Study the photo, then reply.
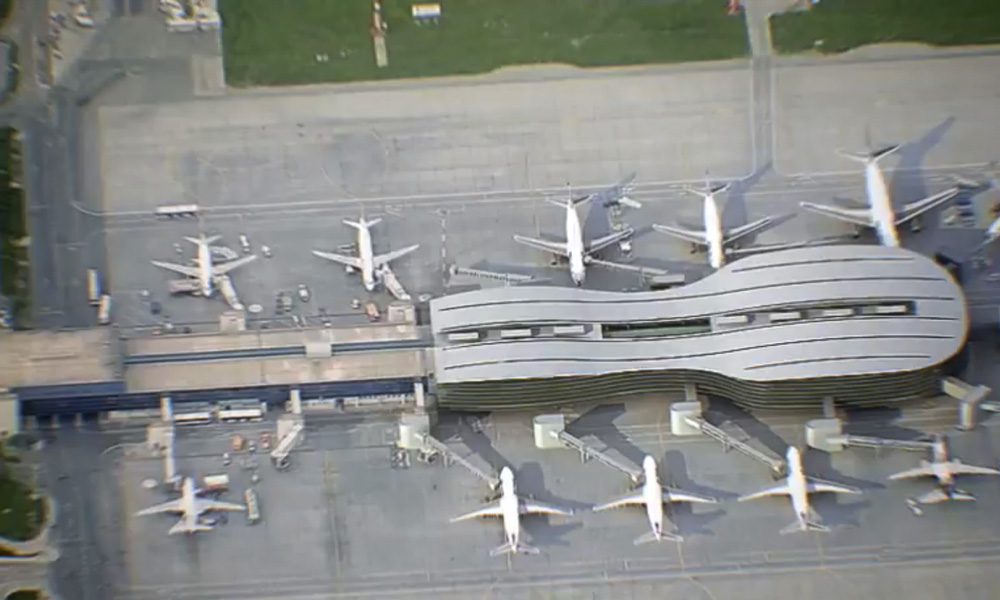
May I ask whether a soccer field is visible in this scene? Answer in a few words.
No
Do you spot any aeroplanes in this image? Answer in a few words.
Yes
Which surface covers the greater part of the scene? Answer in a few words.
paved ground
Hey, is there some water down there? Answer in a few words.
No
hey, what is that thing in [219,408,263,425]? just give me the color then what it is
white vehicle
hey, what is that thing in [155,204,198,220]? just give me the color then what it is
white vehicle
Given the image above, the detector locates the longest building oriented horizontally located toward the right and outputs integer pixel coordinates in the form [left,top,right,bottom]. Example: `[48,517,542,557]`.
[431,246,967,409]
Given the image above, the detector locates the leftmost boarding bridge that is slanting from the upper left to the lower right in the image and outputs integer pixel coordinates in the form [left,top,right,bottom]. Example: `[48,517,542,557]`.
[415,426,502,492]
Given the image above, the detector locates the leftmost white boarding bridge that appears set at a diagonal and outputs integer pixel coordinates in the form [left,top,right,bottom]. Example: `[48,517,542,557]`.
[268,424,306,471]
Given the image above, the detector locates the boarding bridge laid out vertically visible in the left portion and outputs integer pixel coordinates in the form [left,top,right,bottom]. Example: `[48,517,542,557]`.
[162,437,184,491]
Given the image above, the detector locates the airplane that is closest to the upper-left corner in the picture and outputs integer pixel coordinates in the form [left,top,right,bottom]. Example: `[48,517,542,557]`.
[150,225,256,298]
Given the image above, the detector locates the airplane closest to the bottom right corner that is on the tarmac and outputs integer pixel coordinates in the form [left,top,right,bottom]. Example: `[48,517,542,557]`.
[891,437,1000,507]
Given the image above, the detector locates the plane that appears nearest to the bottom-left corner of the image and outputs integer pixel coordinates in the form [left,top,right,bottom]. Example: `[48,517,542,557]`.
[136,478,245,538]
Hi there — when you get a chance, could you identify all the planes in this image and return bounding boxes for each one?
[515,185,633,285]
[737,447,862,533]
[891,437,1000,507]
[312,202,418,291]
[805,136,960,248]
[136,478,245,538]
[447,466,575,554]
[652,173,771,271]
[593,455,719,542]
[150,225,256,298]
